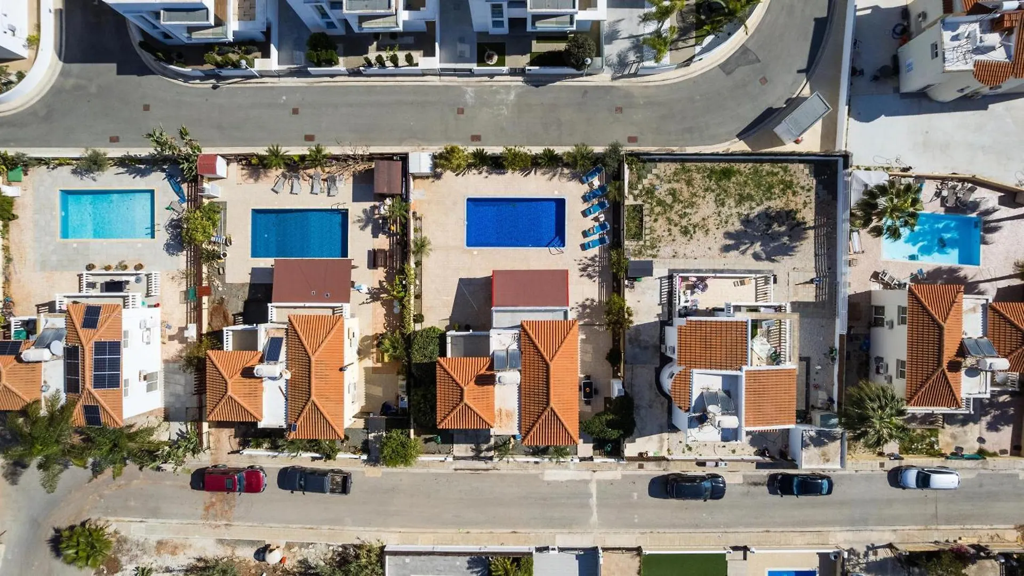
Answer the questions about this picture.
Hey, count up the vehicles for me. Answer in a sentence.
My tally gives 5 vehicles in this view.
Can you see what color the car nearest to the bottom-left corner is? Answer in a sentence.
The color of the car nearest to the bottom-left corner is red.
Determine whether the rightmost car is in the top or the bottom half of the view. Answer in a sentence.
The rightmost car is in the bottom half of the image.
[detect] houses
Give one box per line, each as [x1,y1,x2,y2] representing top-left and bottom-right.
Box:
[435,305,580,447]
[0,0,27,57]
[0,293,160,429]
[871,284,1024,418]
[285,0,439,34]
[106,0,269,43]
[658,304,801,443]
[204,303,359,440]
[901,0,1024,100]
[469,0,610,33]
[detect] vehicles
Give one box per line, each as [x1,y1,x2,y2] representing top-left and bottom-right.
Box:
[774,470,833,499]
[897,464,961,493]
[667,472,725,502]
[204,464,268,495]
[287,467,354,497]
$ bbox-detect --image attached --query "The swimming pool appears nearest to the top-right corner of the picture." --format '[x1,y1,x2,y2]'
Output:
[879,207,985,268]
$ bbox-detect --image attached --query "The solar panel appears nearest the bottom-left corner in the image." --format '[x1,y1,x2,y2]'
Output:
[80,404,102,427]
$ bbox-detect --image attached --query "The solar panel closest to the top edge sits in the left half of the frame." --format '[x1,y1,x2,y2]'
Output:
[79,304,103,330]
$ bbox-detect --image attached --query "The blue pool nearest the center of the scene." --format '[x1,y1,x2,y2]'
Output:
[464,195,568,254]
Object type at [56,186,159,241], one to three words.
swimming pool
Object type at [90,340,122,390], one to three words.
solar panel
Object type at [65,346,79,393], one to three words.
solar panel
